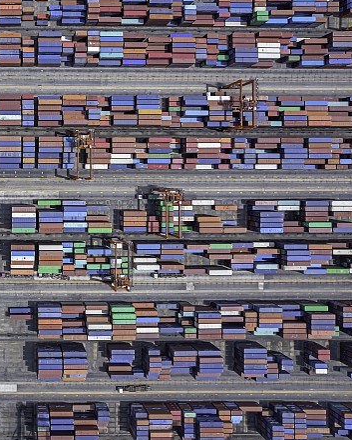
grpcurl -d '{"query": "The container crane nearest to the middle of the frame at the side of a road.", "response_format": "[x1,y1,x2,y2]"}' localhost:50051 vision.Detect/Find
[149,187,183,239]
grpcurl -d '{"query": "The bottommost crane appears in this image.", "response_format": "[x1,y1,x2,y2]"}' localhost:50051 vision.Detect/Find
[102,236,132,292]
